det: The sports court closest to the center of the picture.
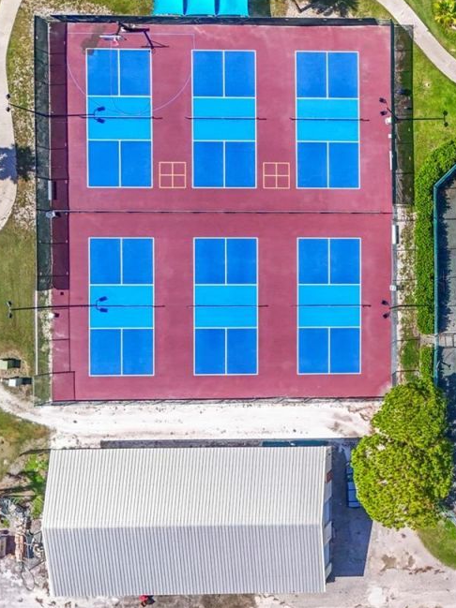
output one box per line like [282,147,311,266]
[192,235,258,376]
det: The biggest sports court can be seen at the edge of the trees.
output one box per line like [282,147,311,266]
[50,21,393,402]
